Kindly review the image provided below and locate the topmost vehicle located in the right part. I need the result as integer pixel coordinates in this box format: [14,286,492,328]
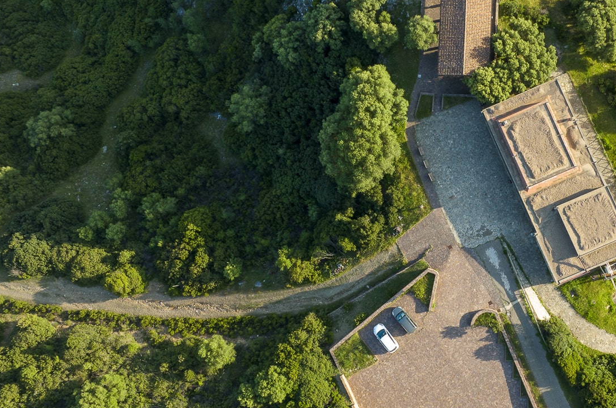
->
[393,304,418,337]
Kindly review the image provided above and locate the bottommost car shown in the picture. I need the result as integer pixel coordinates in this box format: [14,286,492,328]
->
[375,322,399,355]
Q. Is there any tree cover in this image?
Yes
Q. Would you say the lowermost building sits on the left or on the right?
right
